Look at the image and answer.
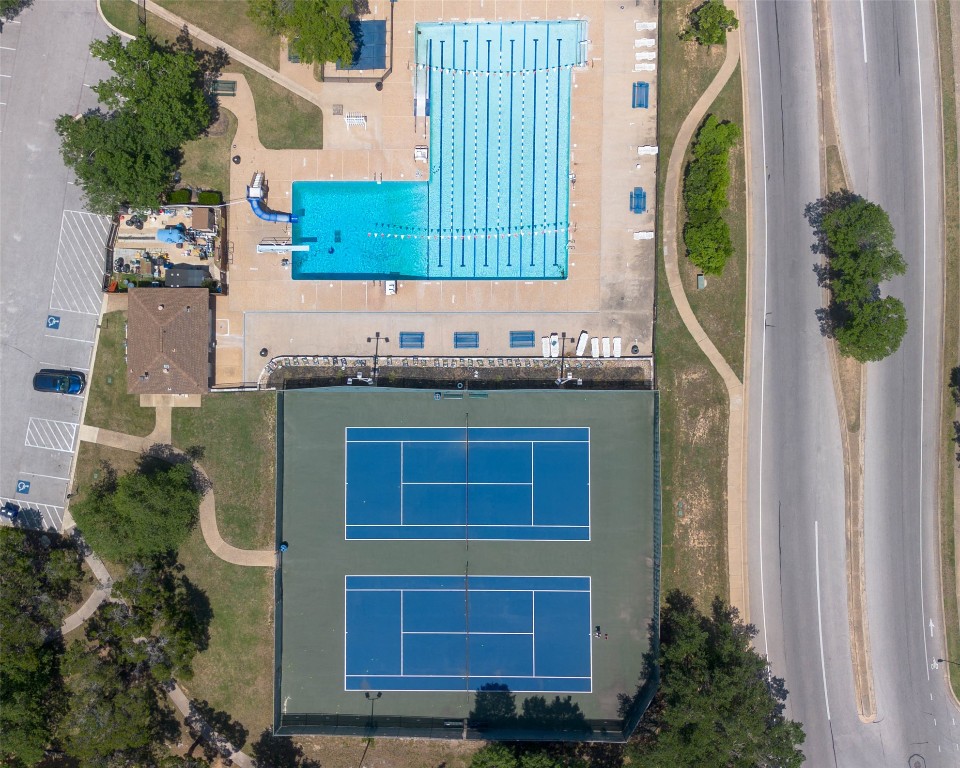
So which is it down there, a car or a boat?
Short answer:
car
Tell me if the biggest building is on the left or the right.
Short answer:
left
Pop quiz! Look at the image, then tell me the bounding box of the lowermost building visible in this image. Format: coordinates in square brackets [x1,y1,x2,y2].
[124,287,218,394]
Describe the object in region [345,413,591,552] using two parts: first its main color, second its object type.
blue tennis court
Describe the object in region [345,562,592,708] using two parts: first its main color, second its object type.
blue tennis court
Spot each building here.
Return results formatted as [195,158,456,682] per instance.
[191,206,221,233]
[124,287,218,394]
